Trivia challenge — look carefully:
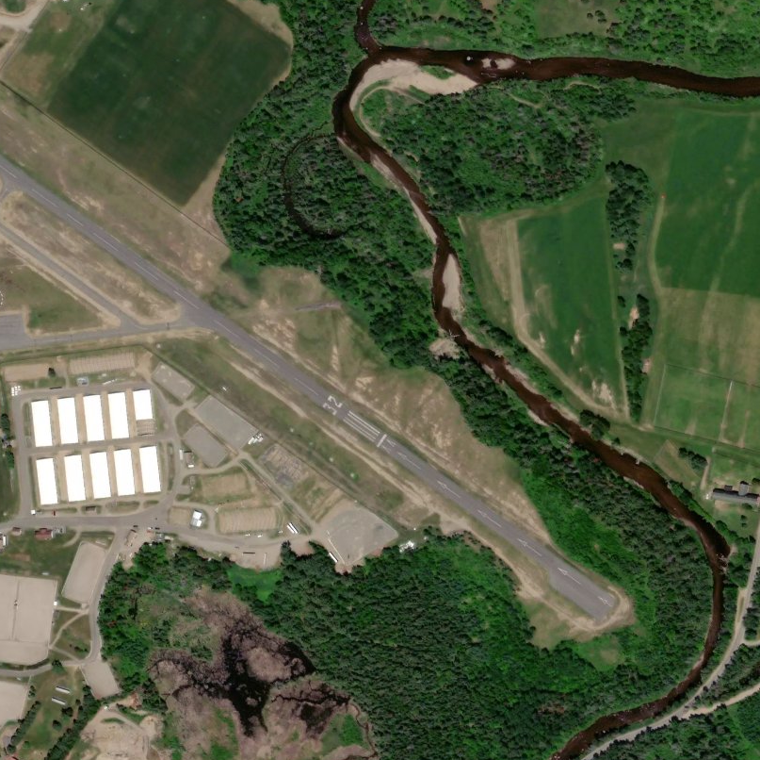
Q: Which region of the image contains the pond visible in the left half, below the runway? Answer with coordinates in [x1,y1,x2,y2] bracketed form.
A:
[173,623,376,760]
